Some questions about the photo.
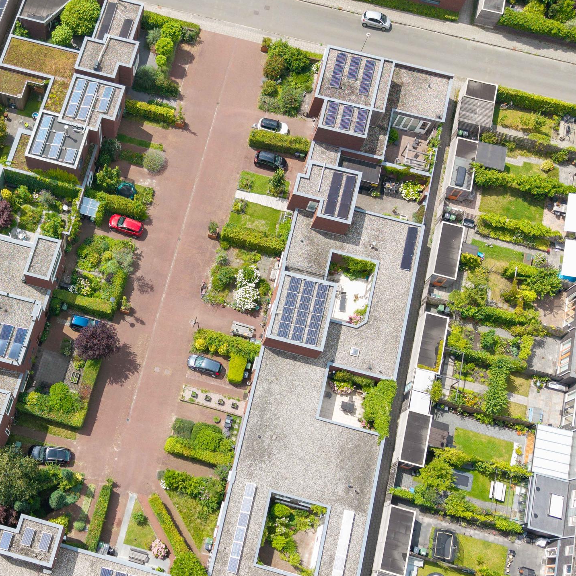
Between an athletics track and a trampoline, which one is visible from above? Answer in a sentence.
It is a trampoline that can be seen here.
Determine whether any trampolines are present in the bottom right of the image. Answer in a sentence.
Yes, in the bottom right of the image there is a trampoline.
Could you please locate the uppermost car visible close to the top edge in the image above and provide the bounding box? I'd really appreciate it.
[362,9,391,31]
